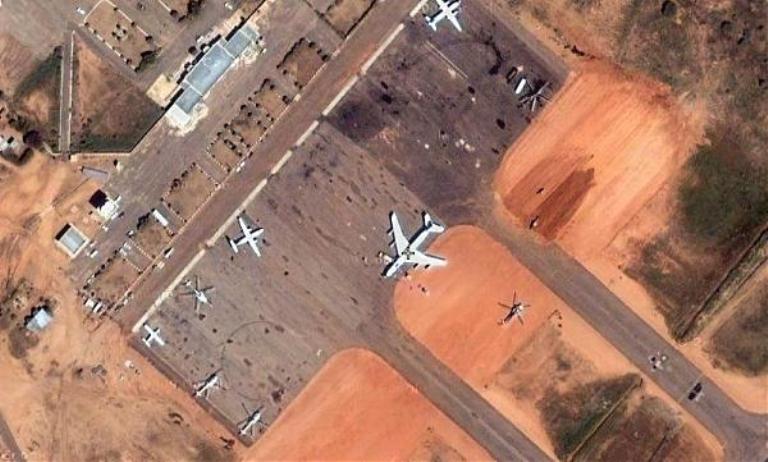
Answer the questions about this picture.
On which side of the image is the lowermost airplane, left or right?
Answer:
left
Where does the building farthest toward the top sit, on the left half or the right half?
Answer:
left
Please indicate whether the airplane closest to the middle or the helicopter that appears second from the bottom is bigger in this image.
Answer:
the airplane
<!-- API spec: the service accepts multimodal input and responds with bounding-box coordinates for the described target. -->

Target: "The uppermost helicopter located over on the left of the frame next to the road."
[184,278,214,306]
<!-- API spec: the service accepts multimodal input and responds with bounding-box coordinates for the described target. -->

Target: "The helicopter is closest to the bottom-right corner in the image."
[500,292,530,321]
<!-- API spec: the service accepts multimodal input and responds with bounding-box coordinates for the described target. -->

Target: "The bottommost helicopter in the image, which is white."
[238,406,268,435]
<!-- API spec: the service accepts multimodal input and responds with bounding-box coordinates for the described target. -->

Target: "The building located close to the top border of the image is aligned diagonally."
[166,22,260,127]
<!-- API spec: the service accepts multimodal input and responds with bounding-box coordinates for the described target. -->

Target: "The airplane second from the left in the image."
[229,217,262,256]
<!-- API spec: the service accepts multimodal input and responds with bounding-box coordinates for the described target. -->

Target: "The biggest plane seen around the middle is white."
[385,212,448,277]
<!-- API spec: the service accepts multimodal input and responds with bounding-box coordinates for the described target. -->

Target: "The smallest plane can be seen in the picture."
[142,326,163,346]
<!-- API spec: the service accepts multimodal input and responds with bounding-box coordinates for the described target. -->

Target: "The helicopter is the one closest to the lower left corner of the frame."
[194,370,225,399]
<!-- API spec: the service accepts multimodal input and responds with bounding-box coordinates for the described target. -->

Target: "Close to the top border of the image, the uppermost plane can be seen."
[425,0,462,30]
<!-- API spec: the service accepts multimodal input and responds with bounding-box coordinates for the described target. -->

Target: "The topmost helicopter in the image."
[519,81,548,111]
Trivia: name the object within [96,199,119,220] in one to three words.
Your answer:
building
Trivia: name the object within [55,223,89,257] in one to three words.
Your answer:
building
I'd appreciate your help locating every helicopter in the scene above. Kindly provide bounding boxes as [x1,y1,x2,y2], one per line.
[238,406,268,435]
[519,81,548,111]
[184,278,214,306]
[500,292,530,321]
[194,370,225,399]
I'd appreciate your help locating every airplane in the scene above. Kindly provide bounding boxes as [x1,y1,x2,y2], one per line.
[229,217,262,256]
[142,326,163,346]
[385,212,448,277]
[425,0,462,30]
